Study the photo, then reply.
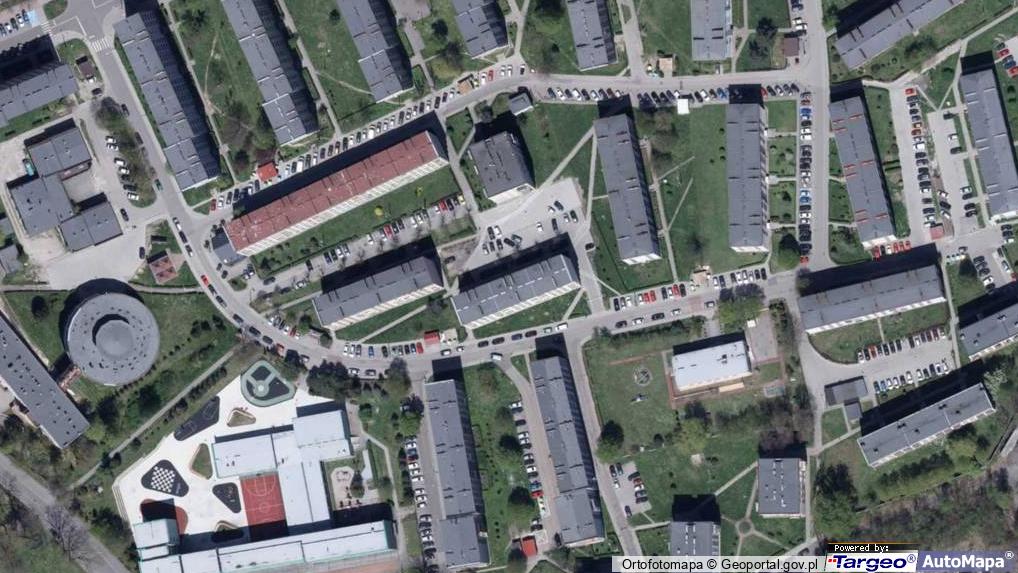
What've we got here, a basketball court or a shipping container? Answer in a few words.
basketball court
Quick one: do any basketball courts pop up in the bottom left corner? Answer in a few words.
Yes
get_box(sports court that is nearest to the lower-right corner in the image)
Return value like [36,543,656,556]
[751,308,786,386]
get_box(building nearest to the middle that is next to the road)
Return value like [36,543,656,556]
[450,254,580,330]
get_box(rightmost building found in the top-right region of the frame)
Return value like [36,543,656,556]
[960,68,1018,222]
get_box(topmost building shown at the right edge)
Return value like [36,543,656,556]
[836,0,981,75]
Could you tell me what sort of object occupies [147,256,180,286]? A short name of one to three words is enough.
house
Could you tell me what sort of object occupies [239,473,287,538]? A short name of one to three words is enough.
basketball court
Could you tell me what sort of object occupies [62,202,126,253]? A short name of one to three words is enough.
building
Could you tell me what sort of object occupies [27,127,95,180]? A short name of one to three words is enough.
building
